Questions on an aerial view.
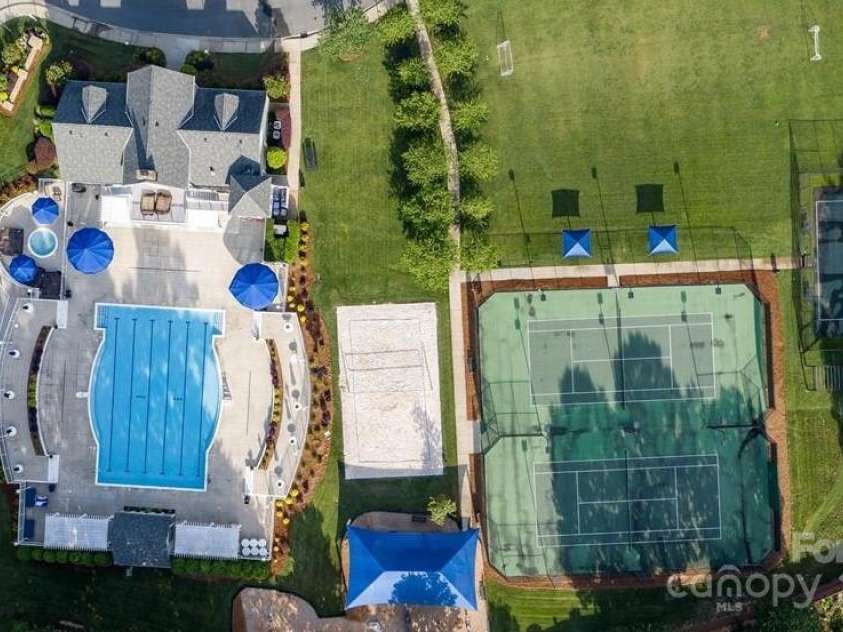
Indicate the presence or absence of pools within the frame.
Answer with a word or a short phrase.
Yes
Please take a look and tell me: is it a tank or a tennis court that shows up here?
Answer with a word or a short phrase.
tennis court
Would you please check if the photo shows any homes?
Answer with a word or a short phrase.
Yes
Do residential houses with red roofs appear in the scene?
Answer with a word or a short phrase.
No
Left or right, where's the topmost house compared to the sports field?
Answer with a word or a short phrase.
to the left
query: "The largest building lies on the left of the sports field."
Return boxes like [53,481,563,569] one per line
[49,65,276,218]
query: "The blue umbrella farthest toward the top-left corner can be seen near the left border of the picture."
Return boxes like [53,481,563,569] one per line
[31,197,59,224]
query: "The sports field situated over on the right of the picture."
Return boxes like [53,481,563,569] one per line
[431,0,843,268]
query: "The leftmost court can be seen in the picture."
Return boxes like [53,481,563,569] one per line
[337,302,443,479]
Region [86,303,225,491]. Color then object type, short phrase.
blue swimming pool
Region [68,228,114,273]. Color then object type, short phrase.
blue umbrella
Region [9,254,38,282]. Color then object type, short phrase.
blue umbrella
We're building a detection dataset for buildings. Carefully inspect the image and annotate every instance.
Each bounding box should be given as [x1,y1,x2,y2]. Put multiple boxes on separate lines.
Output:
[49,65,276,218]
[100,515,170,573]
